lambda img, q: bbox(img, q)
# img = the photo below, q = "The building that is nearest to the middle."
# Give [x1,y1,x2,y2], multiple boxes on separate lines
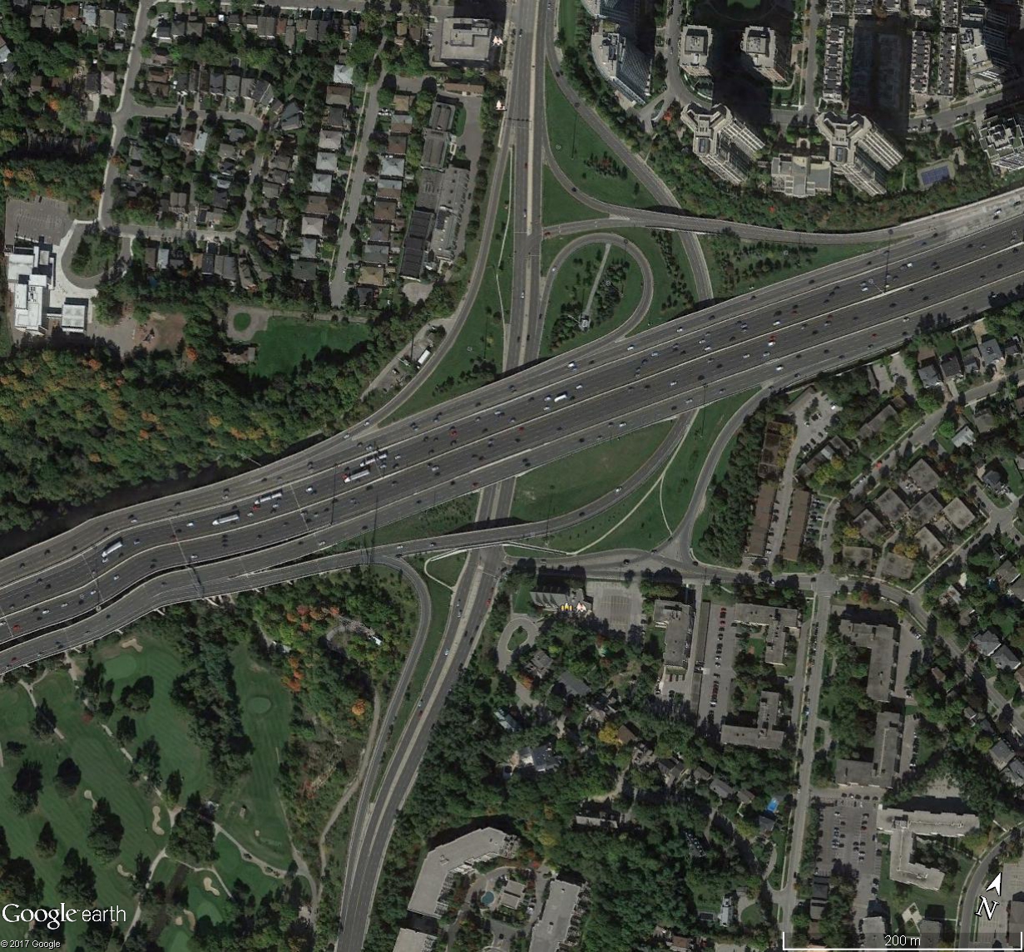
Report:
[530,588,593,615]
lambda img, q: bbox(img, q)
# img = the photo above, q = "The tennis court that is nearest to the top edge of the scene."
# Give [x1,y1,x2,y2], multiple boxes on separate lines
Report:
[919,161,956,190]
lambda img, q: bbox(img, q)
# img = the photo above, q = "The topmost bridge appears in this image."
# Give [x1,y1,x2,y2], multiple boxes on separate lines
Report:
[617,206,741,231]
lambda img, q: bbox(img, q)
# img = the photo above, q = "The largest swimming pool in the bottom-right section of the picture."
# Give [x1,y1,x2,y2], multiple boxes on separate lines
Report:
[766,793,782,818]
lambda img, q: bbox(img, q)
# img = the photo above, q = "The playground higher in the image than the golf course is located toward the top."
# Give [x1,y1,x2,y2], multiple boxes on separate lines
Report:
[135,313,185,351]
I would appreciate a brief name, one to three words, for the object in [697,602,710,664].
building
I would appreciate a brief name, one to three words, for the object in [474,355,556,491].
overpass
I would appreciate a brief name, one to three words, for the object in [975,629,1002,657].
house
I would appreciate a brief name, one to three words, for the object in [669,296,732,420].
overpass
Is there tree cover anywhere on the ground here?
Yes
